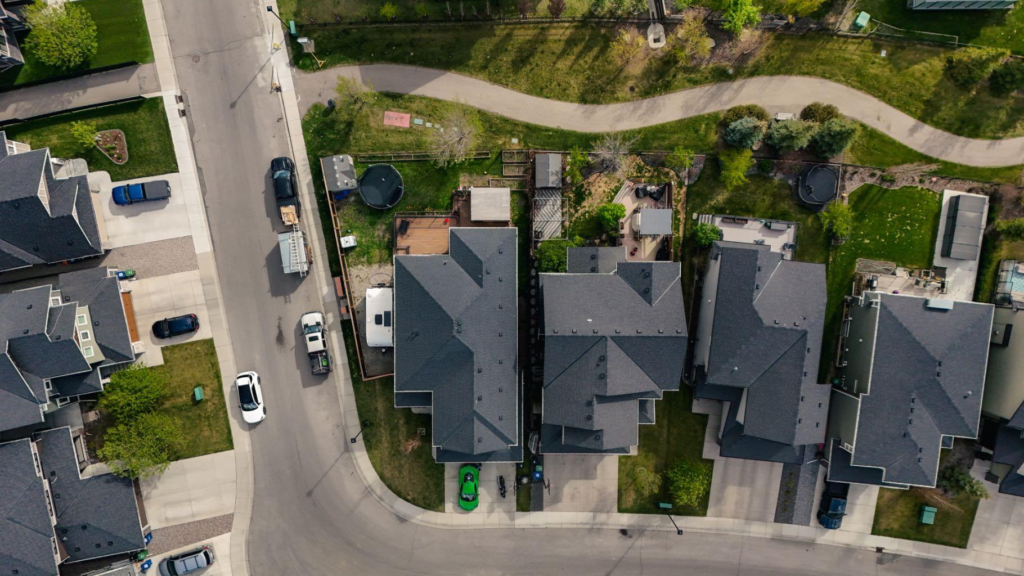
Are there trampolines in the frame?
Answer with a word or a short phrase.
Yes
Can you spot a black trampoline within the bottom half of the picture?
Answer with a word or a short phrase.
No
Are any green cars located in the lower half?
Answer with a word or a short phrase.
Yes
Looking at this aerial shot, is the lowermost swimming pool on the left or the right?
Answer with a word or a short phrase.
right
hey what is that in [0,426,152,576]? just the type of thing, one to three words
house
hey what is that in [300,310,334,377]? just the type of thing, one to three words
truck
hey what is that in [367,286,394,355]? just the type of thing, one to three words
trailer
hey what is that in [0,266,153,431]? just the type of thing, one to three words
house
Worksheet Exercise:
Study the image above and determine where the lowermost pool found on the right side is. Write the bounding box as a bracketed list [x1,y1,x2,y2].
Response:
[994,260,1024,295]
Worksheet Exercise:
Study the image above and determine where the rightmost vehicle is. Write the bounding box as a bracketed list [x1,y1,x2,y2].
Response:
[817,473,850,532]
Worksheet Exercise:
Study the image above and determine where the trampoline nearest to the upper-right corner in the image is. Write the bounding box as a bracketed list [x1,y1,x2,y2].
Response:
[799,160,845,206]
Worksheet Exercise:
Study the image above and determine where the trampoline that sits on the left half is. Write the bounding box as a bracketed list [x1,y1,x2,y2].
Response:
[357,163,404,210]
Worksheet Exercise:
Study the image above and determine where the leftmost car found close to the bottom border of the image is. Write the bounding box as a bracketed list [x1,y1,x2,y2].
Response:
[159,545,218,576]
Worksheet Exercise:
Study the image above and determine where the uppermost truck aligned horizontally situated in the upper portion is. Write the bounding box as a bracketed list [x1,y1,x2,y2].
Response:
[109,179,175,207]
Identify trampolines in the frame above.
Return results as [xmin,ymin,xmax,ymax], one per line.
[799,160,845,206]
[357,163,404,210]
